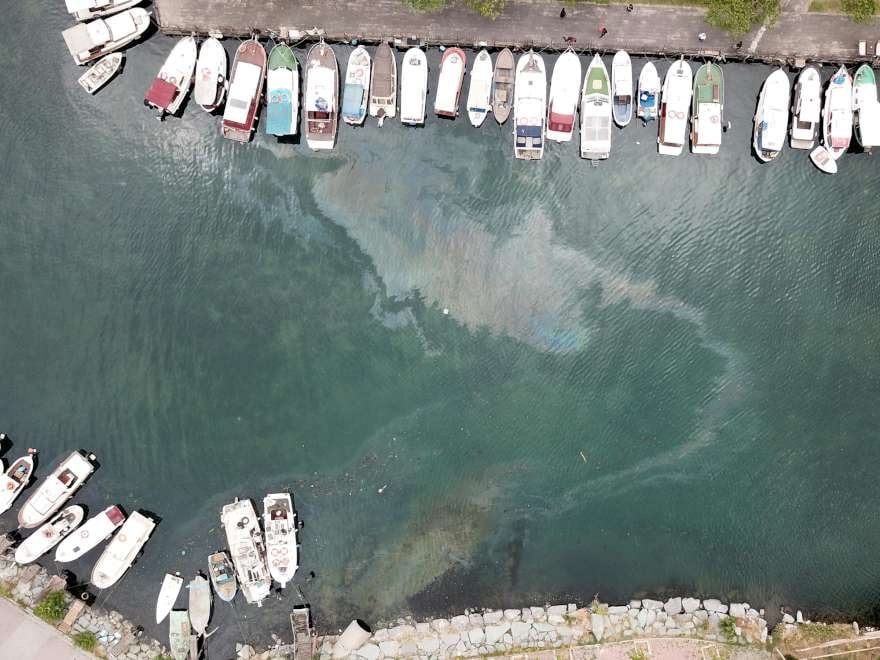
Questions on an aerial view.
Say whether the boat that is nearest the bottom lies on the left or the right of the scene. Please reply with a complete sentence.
The boat that is nearest the bottom sits on the left side.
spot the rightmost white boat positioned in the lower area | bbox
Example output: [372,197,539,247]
[263,491,303,593]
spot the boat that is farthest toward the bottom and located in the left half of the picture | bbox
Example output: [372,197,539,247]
[168,608,192,660]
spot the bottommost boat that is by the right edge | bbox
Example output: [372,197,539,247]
[805,144,838,174]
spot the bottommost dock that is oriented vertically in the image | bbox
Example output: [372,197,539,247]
[292,605,315,660]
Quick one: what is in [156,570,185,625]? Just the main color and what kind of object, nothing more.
white boat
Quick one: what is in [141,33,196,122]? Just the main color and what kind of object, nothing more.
white boat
